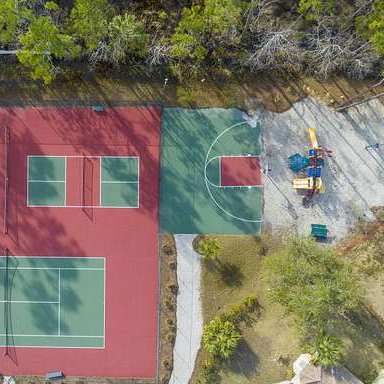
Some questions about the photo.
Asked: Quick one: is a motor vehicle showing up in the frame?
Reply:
No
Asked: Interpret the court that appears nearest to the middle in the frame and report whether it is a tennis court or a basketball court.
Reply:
basketball court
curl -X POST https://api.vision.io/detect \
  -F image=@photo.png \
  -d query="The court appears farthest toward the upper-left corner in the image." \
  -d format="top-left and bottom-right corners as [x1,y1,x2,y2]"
[28,156,139,208]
